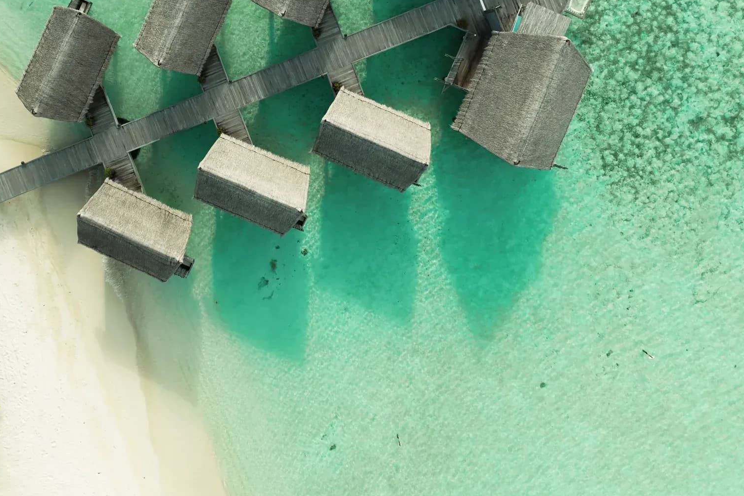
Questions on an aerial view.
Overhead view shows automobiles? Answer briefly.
No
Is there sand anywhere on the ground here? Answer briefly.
Yes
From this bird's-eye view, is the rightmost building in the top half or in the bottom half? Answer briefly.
top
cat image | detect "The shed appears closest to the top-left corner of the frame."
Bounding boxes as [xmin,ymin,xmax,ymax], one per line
[15,0,122,122]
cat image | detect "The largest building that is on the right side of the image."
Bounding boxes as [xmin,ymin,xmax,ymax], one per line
[438,31,593,169]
